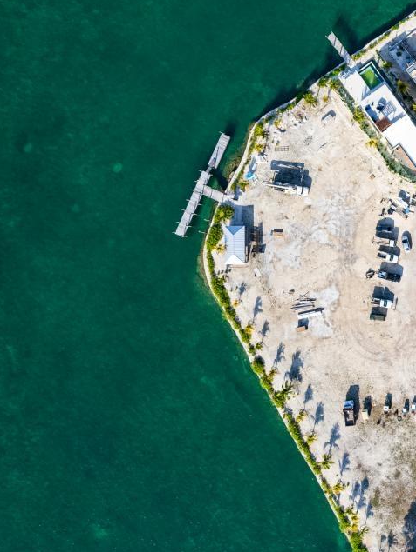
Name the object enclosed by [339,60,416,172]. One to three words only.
house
